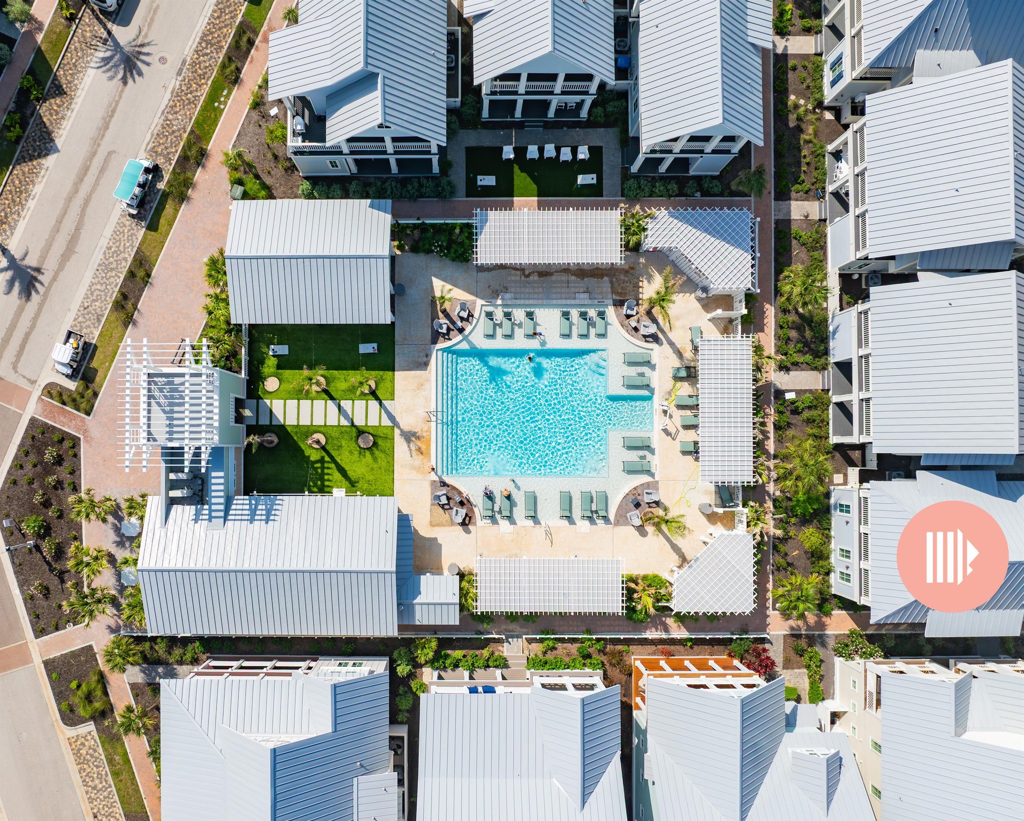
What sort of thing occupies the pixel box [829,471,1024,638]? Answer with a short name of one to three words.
house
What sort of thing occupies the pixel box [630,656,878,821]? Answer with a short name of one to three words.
house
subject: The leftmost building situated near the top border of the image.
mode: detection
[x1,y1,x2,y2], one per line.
[269,0,447,178]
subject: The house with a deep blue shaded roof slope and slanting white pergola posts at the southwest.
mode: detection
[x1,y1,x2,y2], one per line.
[159,657,411,821]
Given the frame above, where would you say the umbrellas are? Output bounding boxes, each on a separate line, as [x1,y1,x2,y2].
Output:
[121,516,144,539]
[120,565,139,588]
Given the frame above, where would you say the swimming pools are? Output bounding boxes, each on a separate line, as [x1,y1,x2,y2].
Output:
[437,305,653,520]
